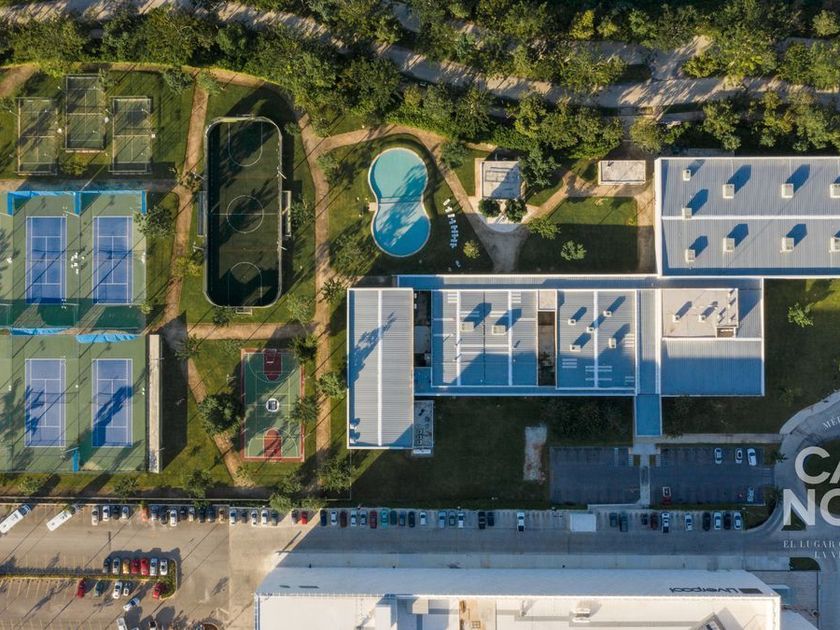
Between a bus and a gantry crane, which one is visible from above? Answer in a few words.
bus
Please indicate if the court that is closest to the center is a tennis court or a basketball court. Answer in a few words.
basketball court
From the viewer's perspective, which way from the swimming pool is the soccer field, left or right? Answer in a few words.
to its left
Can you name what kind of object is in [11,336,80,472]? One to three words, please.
tennis court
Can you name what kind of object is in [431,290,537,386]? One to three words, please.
building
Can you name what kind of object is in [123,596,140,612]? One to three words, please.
car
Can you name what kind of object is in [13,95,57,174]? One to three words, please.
sports court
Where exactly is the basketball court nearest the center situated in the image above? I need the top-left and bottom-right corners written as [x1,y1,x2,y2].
[241,349,304,462]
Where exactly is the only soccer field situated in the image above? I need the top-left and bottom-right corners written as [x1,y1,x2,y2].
[203,114,281,306]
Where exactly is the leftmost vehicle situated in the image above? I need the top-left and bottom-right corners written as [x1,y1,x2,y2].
[0,500,38,535]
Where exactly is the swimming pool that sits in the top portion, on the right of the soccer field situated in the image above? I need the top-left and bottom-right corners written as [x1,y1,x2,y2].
[367,147,432,258]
